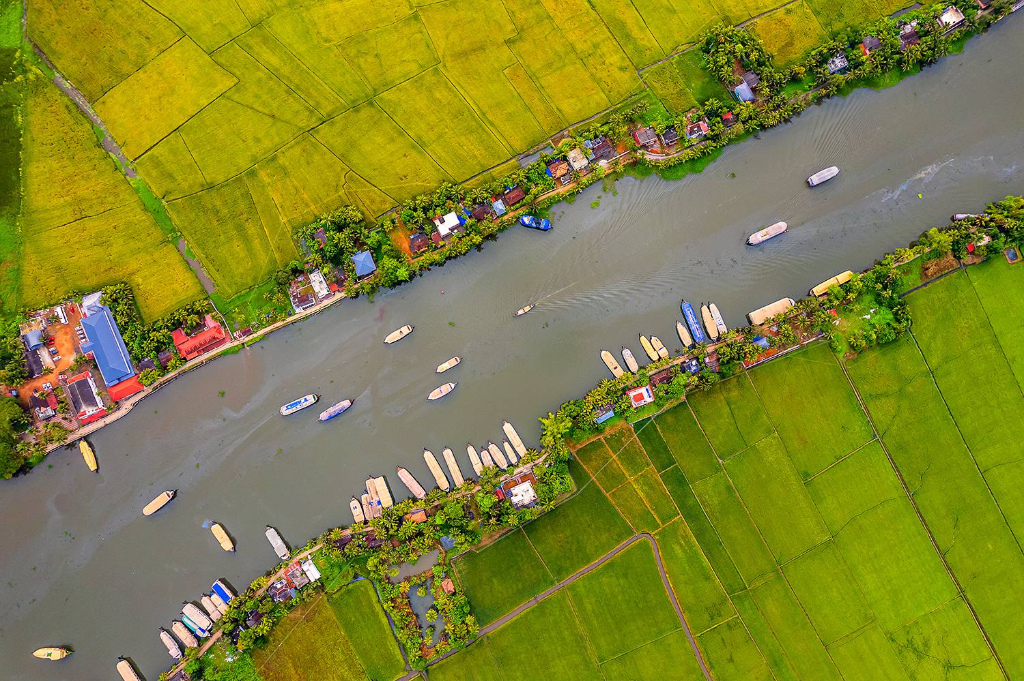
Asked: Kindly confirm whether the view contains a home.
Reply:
Yes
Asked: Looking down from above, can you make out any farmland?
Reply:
Yes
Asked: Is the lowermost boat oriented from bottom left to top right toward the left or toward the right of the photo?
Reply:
left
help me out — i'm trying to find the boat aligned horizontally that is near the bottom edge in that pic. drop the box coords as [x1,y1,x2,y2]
[34,644,78,658]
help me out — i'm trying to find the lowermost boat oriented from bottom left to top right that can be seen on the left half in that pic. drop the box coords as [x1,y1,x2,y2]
[143,488,181,517]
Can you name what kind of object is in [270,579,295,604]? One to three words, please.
house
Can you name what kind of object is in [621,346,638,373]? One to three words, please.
boat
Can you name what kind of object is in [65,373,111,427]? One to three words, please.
building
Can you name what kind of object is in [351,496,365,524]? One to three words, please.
boat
